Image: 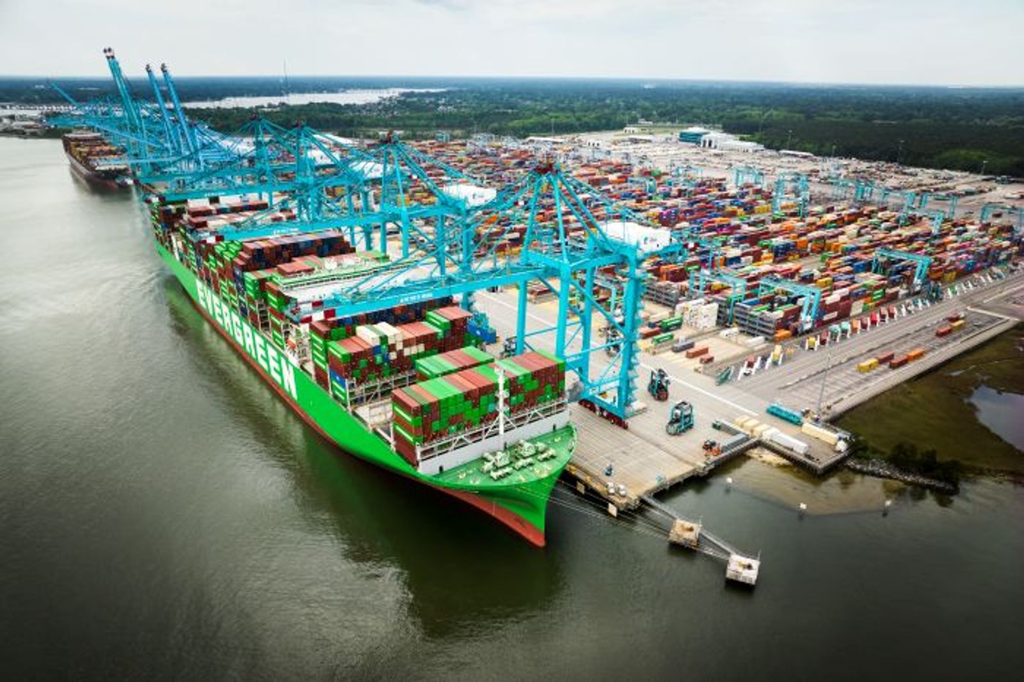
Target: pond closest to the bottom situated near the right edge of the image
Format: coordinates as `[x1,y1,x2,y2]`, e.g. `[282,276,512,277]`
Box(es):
[966,384,1024,451]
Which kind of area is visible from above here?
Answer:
port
